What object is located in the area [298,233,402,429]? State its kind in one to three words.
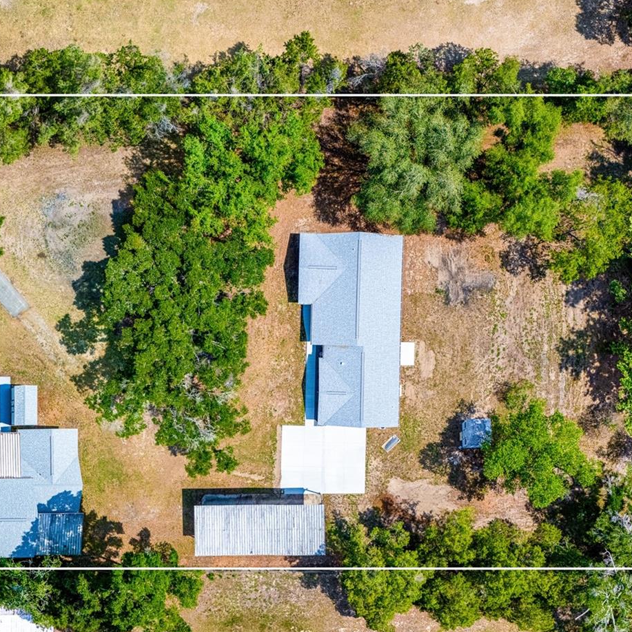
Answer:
house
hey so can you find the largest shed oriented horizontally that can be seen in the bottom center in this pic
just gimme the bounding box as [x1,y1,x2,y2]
[195,502,324,556]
